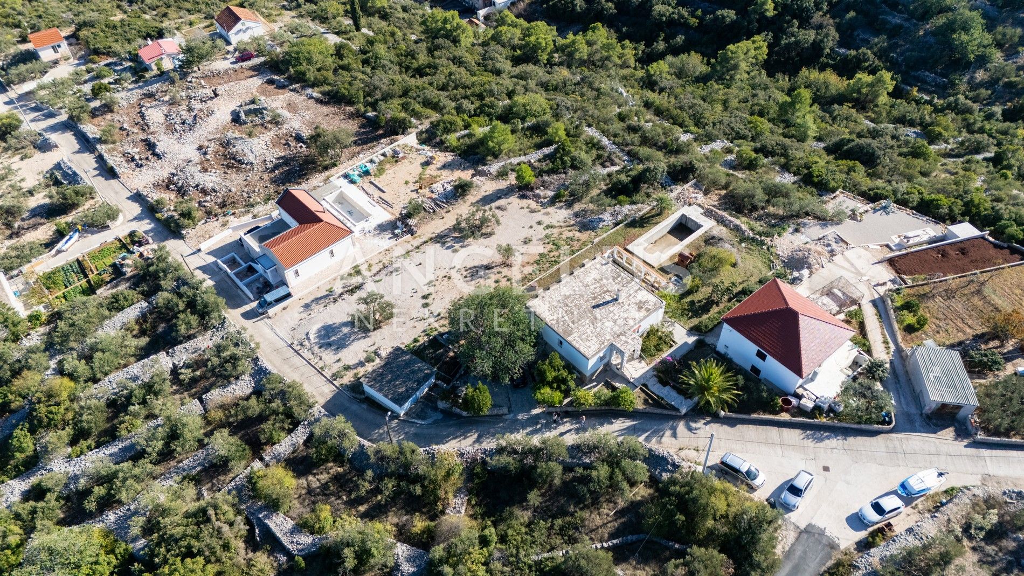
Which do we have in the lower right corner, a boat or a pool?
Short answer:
boat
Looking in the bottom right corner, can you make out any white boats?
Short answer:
Yes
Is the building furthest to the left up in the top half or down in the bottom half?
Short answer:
top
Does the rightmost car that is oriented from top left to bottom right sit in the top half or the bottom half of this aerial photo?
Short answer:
bottom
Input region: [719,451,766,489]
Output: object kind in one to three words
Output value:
car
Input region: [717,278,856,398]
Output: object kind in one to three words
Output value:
house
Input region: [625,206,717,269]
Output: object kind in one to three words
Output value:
swimming pool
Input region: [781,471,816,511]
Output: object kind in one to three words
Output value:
car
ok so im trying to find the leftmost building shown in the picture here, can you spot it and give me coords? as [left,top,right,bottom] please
[25,27,77,63]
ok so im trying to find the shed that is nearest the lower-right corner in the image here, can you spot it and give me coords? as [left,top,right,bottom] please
[898,334,980,419]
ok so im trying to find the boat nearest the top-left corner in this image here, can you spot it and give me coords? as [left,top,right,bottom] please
[49,226,83,254]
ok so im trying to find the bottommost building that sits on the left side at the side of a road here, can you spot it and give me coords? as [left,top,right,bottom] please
[362,348,436,418]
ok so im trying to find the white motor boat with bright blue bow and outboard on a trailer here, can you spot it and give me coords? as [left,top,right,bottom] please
[897,468,949,495]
